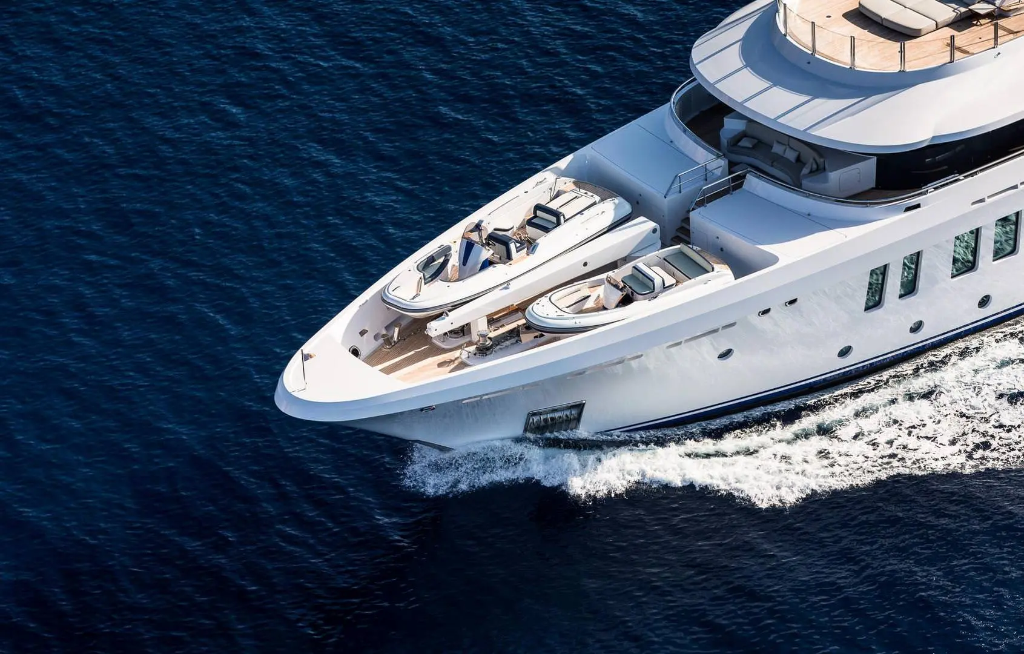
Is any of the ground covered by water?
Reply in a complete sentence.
Yes, water can be seen from above here.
